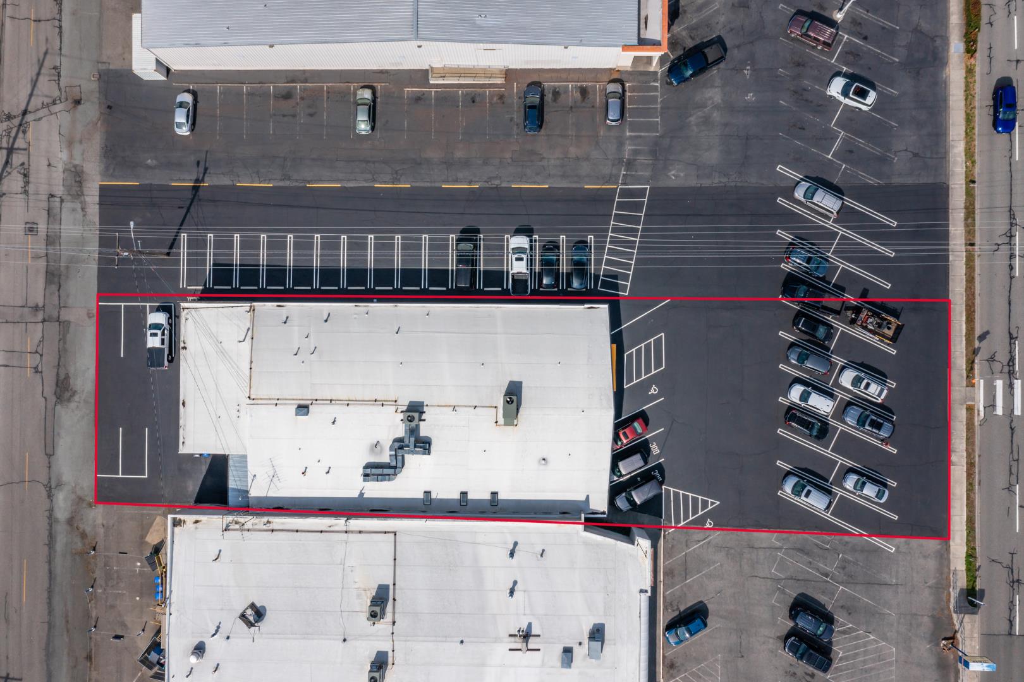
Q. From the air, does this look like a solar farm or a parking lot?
parking lot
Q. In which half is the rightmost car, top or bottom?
top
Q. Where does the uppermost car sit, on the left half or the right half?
right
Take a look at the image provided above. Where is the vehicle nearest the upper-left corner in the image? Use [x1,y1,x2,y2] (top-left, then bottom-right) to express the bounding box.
[172,92,197,137]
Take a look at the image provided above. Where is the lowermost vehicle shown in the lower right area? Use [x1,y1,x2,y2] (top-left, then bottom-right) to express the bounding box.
[781,634,837,678]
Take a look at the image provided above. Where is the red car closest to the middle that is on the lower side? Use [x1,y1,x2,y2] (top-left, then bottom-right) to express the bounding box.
[612,419,651,451]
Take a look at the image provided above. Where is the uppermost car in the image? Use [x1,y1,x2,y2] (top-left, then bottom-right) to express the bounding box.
[787,14,841,48]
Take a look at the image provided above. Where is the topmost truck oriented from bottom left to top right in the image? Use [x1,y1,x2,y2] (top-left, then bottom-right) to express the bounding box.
[668,38,726,84]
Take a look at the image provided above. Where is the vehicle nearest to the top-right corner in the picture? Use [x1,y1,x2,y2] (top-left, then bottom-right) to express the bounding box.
[990,85,1019,133]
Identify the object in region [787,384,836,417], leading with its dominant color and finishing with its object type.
white car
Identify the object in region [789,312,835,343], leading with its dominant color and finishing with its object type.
black car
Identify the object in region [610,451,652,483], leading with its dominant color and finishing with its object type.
gray car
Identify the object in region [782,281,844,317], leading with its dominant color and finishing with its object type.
black truck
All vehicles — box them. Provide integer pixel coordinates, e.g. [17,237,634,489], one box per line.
[787,384,836,417]
[455,234,479,290]
[353,88,375,136]
[610,451,652,483]
[539,242,561,290]
[782,474,834,512]
[787,14,841,48]
[664,611,710,643]
[668,38,726,84]
[793,182,845,216]
[612,419,651,451]
[990,85,1019,133]
[782,281,844,317]
[842,407,896,441]
[172,92,197,137]
[569,242,591,290]
[841,471,890,504]
[521,83,544,134]
[838,368,890,402]
[613,477,665,514]
[786,606,835,642]
[508,235,532,297]
[789,312,835,343]
[781,634,837,678]
[826,76,878,110]
[603,82,625,126]
[782,408,829,440]
[785,344,834,377]
[782,243,827,275]
[146,310,174,370]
